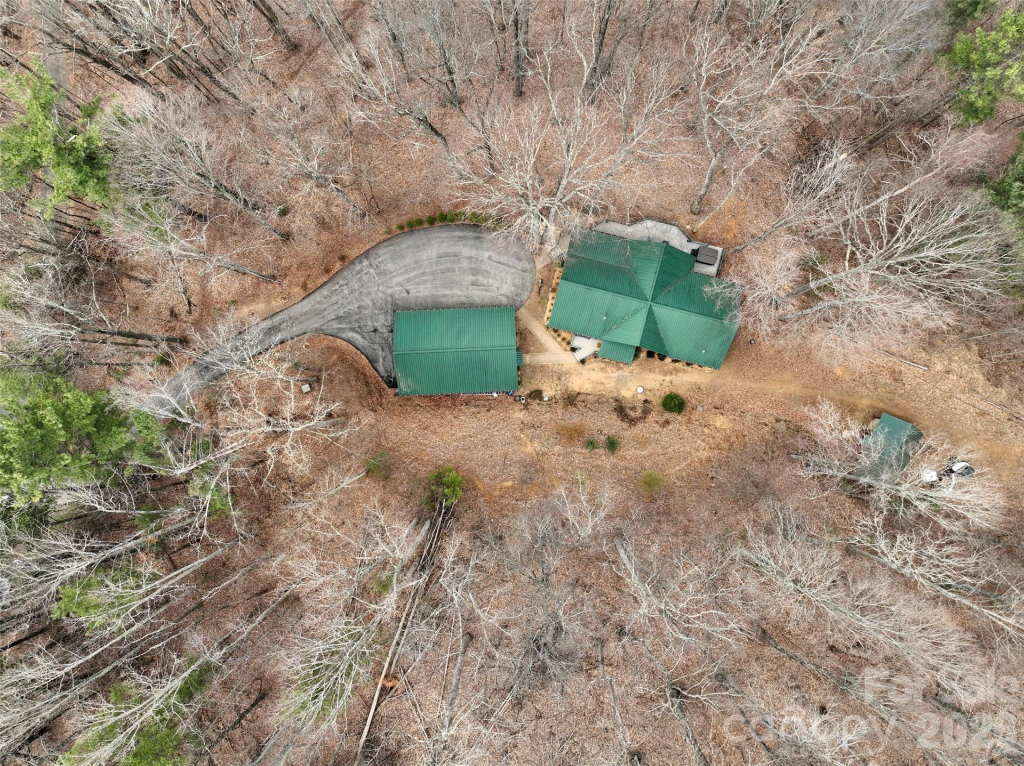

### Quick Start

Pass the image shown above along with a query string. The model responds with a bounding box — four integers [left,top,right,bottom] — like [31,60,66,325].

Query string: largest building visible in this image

[548,218,742,370]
